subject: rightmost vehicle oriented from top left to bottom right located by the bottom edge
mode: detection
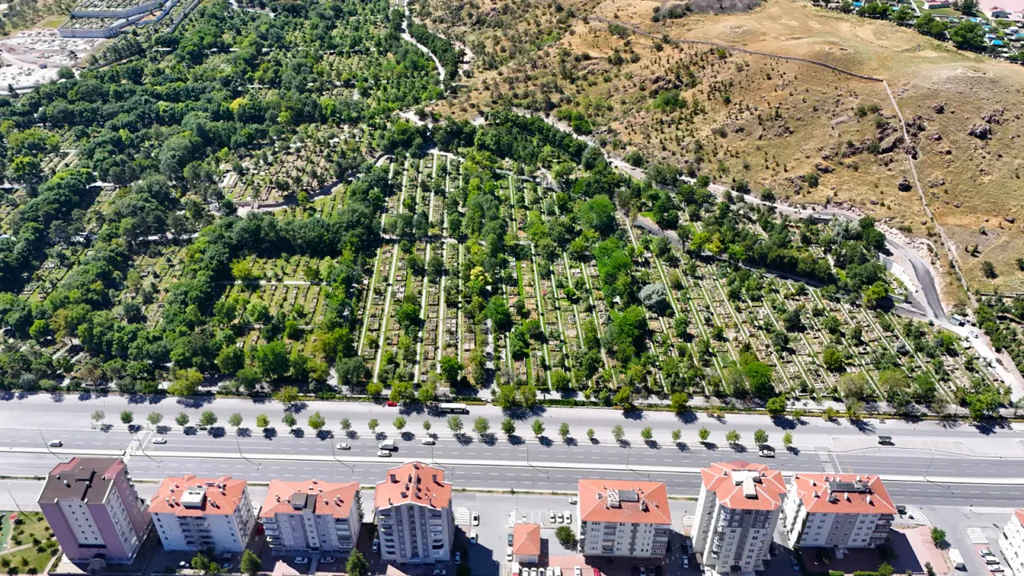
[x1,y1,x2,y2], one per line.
[943,548,977,572]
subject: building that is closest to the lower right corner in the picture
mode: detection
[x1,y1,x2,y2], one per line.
[994,508,1024,575]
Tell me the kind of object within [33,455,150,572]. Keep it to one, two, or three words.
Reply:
building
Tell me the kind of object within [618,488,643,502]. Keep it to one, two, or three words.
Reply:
solar array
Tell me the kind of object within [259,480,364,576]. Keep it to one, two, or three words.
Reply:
building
